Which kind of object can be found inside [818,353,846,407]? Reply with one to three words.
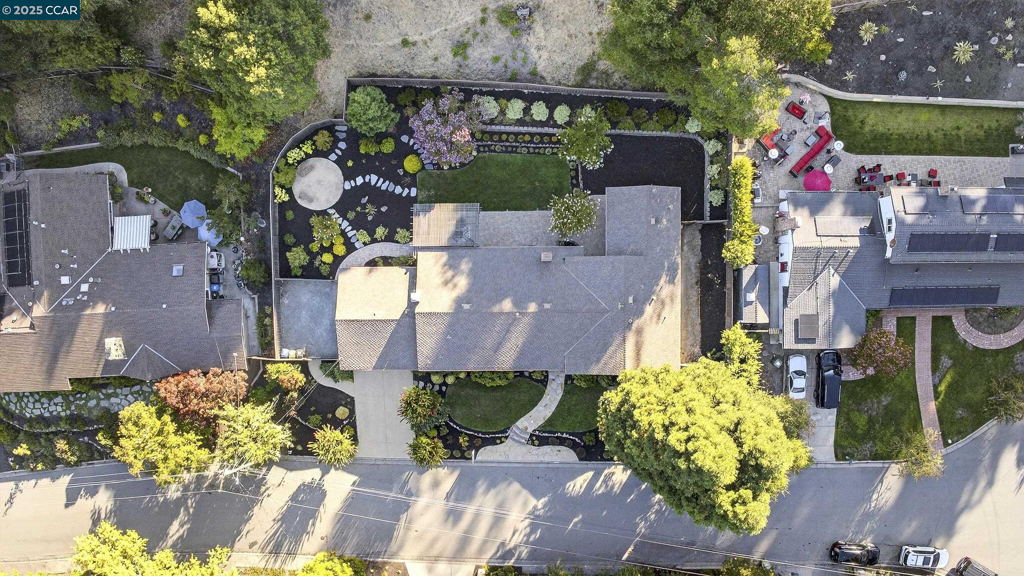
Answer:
van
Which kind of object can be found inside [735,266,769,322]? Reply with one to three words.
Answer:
shed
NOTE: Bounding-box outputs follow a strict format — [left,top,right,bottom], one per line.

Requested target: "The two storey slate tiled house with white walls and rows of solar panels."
[770,177,1024,349]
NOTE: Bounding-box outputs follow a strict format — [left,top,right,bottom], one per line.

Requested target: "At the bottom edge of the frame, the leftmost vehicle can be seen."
[831,542,884,570]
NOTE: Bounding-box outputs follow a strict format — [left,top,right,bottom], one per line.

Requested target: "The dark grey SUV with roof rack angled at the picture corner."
[957,554,1001,576]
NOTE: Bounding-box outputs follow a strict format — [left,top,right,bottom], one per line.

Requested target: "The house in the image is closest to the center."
[336,186,682,375]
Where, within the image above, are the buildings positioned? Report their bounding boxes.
[0,173,254,393]
[735,266,769,322]
[336,186,682,375]
[770,177,1024,349]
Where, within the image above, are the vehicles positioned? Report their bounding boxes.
[818,353,846,407]
[901,546,954,573]
[957,554,1001,576]
[788,353,813,400]
[831,542,884,570]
